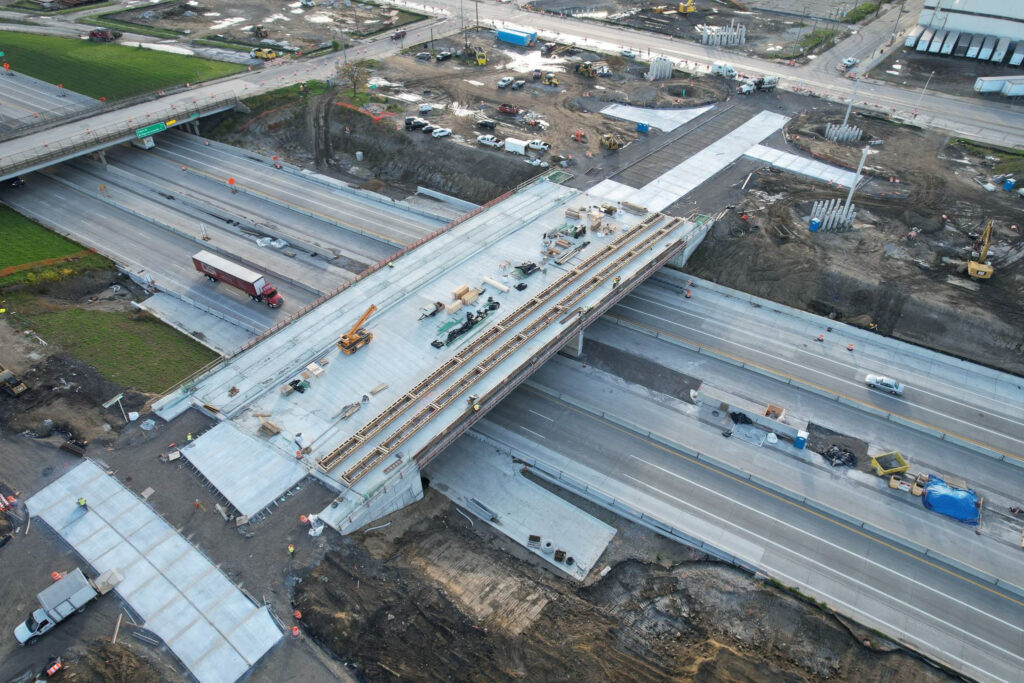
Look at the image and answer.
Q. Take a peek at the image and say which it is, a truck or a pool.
truck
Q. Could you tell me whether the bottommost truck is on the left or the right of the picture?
left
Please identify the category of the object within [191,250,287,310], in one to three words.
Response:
truck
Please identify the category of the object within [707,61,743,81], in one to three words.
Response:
vehicle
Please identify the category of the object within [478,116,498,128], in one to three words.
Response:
vehicle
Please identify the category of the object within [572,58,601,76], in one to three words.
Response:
work vehicle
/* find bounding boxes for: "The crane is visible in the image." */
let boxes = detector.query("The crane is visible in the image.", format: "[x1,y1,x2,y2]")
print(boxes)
[333,301,376,356]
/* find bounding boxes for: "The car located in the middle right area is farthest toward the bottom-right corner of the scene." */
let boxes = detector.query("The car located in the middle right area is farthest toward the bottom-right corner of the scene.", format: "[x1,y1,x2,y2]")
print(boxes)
[868,375,905,394]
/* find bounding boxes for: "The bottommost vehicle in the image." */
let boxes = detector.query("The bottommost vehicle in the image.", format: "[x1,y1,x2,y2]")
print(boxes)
[4,553,121,640]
